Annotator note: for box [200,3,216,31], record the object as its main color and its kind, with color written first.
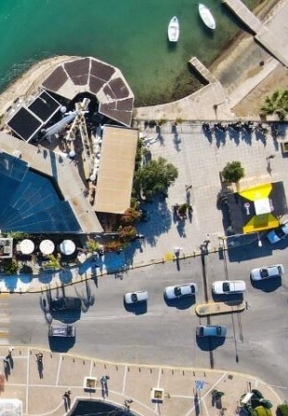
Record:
white boat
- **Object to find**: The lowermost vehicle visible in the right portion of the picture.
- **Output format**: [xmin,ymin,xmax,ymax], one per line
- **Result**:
[194,324,225,337]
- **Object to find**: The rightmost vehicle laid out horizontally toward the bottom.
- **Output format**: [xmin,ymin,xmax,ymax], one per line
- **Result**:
[249,264,283,281]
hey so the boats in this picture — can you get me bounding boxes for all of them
[168,15,179,44]
[200,3,216,31]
